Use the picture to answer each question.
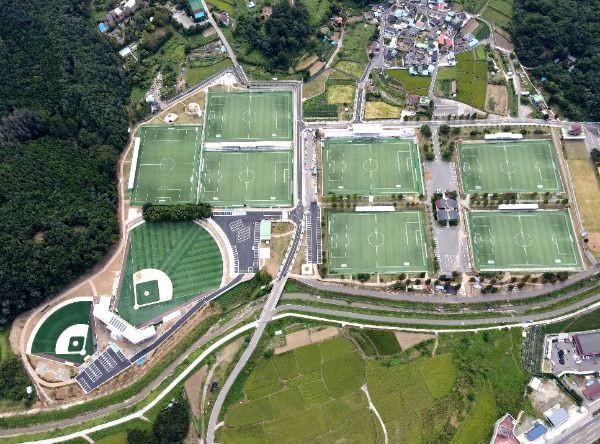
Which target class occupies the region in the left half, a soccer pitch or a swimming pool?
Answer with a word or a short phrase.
soccer pitch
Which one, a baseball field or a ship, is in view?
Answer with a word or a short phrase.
baseball field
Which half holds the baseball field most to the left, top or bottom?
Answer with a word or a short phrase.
bottom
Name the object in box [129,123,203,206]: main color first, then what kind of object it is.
green soccer field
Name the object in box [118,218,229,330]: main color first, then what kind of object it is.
green baseball field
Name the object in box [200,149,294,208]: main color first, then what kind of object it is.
green soccer field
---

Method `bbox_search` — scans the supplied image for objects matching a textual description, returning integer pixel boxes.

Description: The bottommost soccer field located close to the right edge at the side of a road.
[469,209,583,271]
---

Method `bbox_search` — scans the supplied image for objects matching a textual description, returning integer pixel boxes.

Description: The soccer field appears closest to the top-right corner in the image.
[458,139,564,194]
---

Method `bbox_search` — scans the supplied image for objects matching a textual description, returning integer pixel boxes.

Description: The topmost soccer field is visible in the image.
[204,89,294,142]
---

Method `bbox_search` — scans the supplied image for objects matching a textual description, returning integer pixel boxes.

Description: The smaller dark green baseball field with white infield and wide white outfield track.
[26,296,100,366]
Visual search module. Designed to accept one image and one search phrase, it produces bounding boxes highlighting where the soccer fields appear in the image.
[327,209,429,274]
[469,209,583,271]
[321,136,425,196]
[200,149,294,208]
[204,89,294,142]
[458,139,564,194]
[129,123,203,206]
